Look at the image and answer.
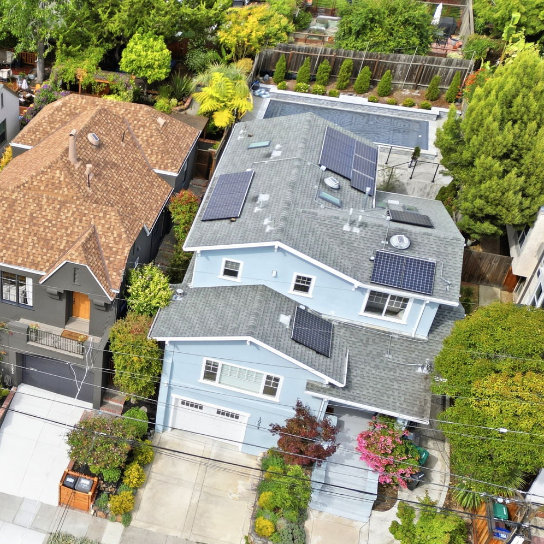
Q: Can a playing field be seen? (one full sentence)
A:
No, there's no playing field here.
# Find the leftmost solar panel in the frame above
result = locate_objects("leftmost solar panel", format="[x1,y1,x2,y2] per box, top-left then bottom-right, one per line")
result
[201,168,255,220]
